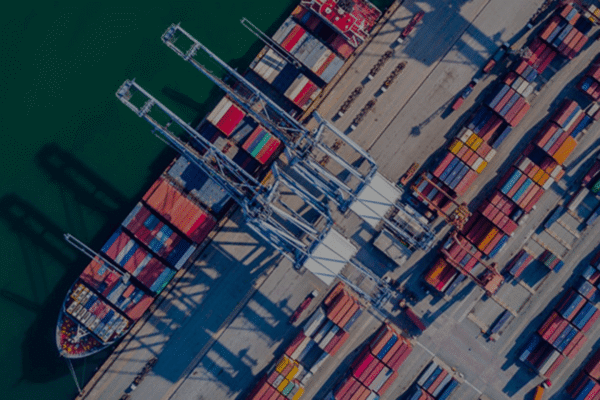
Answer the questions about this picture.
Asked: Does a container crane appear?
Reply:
Yes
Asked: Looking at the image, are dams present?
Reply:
No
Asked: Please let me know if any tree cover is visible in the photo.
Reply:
No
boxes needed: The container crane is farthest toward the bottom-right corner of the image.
[430,234,501,293]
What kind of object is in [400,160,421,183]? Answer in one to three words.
work vehicle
